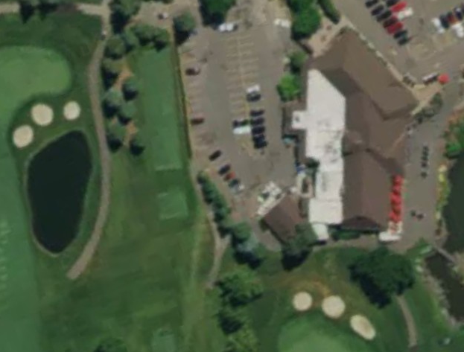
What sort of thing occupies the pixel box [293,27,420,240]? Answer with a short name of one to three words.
building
